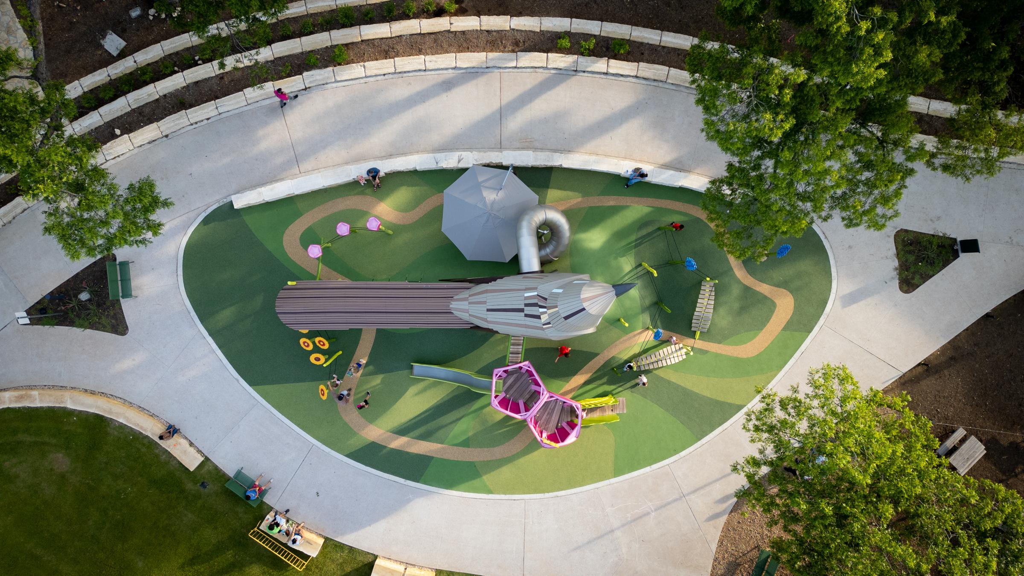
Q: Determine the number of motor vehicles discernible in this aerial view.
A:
none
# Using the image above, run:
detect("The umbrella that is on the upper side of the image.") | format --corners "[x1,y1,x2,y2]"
[442,163,538,262]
